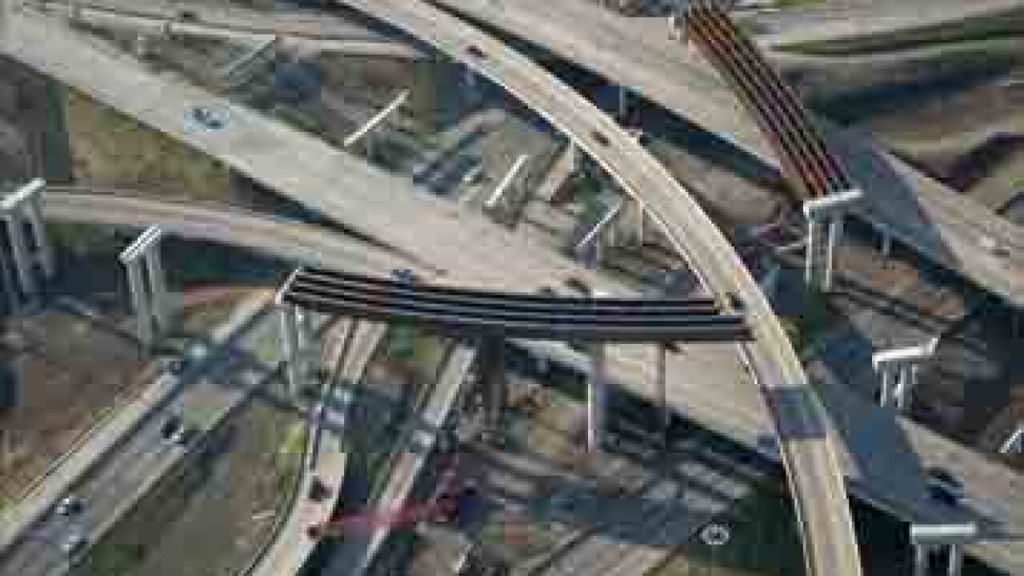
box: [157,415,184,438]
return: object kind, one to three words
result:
car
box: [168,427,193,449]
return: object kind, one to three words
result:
car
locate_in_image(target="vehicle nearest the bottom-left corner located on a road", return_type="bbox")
[53,530,88,560]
